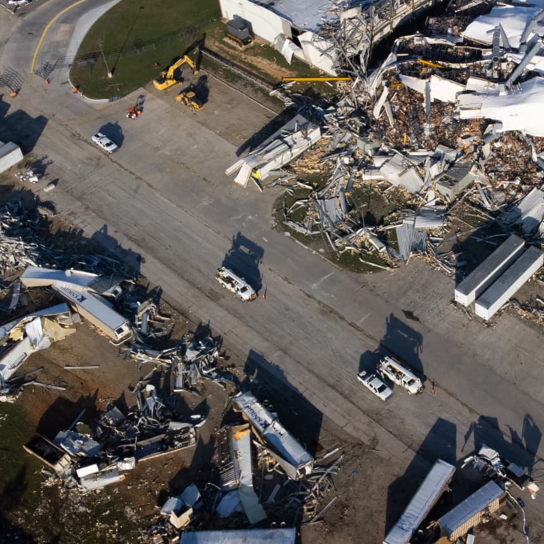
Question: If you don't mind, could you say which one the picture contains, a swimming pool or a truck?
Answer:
truck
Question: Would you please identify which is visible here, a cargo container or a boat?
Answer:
cargo container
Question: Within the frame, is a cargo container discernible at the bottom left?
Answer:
Yes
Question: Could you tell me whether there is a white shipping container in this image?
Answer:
No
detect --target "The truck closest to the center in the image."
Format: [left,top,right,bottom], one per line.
[215,258,255,297]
